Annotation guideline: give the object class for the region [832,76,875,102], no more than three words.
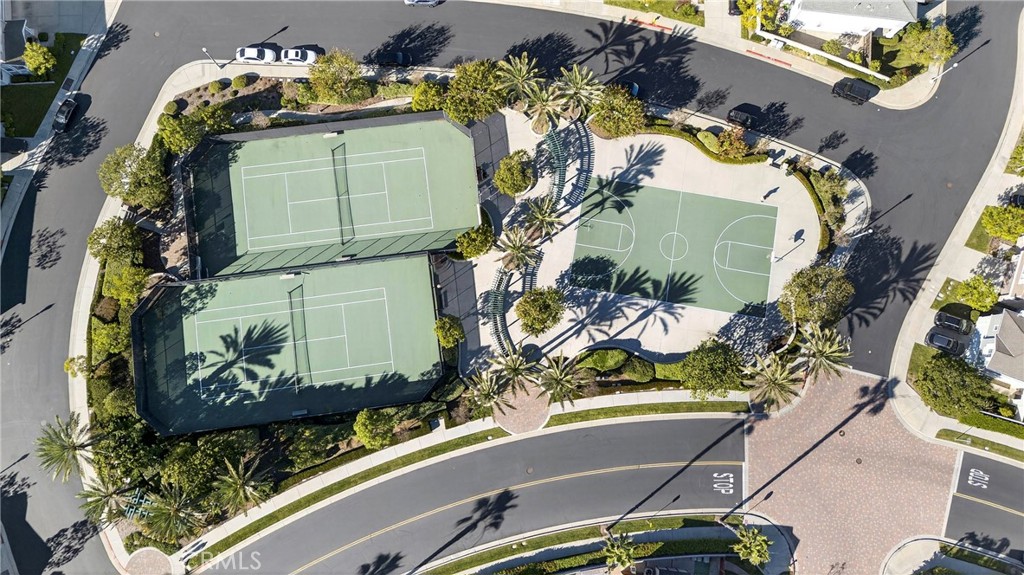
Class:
truck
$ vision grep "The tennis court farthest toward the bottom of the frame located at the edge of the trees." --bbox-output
[142,251,440,433]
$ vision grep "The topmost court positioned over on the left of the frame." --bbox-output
[193,119,480,281]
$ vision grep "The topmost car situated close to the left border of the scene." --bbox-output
[49,94,76,131]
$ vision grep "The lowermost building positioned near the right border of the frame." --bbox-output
[980,308,1024,375]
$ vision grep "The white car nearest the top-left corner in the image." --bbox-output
[237,45,274,63]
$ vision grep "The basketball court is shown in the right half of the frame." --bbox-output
[570,176,776,318]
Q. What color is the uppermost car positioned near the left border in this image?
black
